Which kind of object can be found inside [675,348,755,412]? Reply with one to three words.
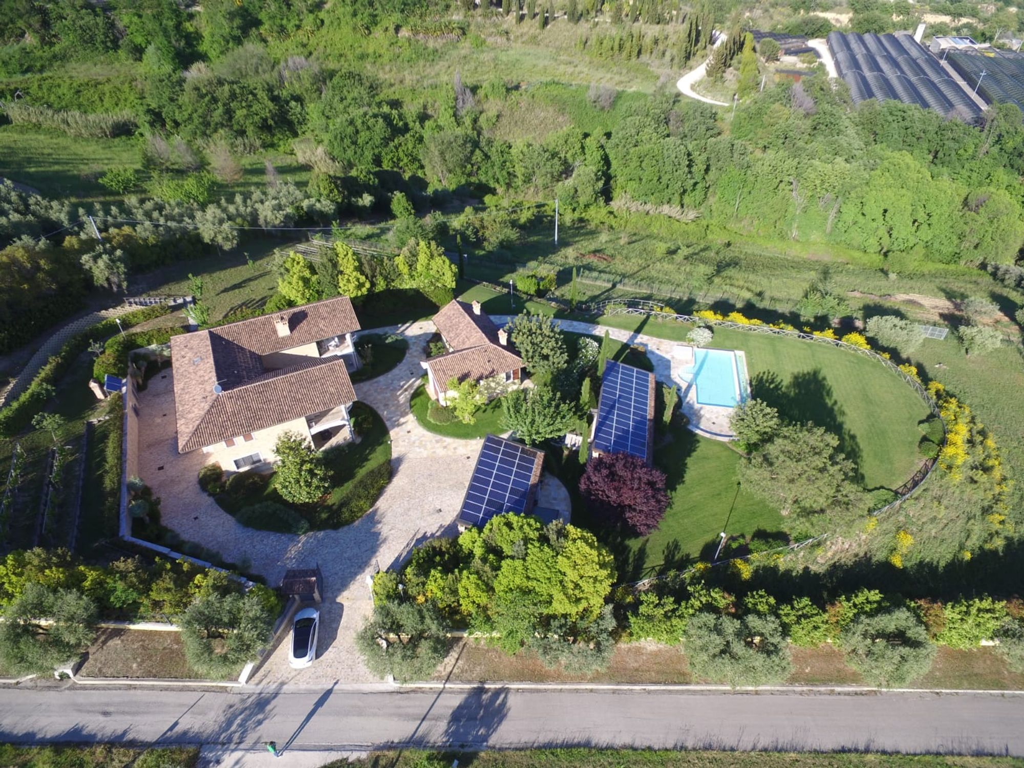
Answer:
swimming pool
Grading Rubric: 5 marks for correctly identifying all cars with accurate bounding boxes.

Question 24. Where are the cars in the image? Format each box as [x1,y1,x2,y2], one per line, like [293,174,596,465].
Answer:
[287,608,321,666]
